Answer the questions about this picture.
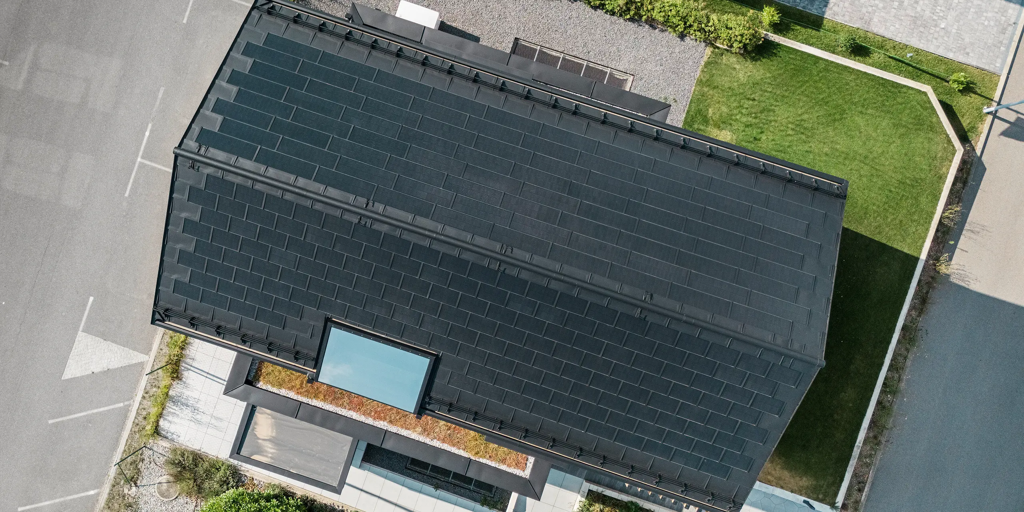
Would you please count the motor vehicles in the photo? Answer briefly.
0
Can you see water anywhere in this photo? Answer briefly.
No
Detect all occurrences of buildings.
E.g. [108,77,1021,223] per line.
[150,0,850,512]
